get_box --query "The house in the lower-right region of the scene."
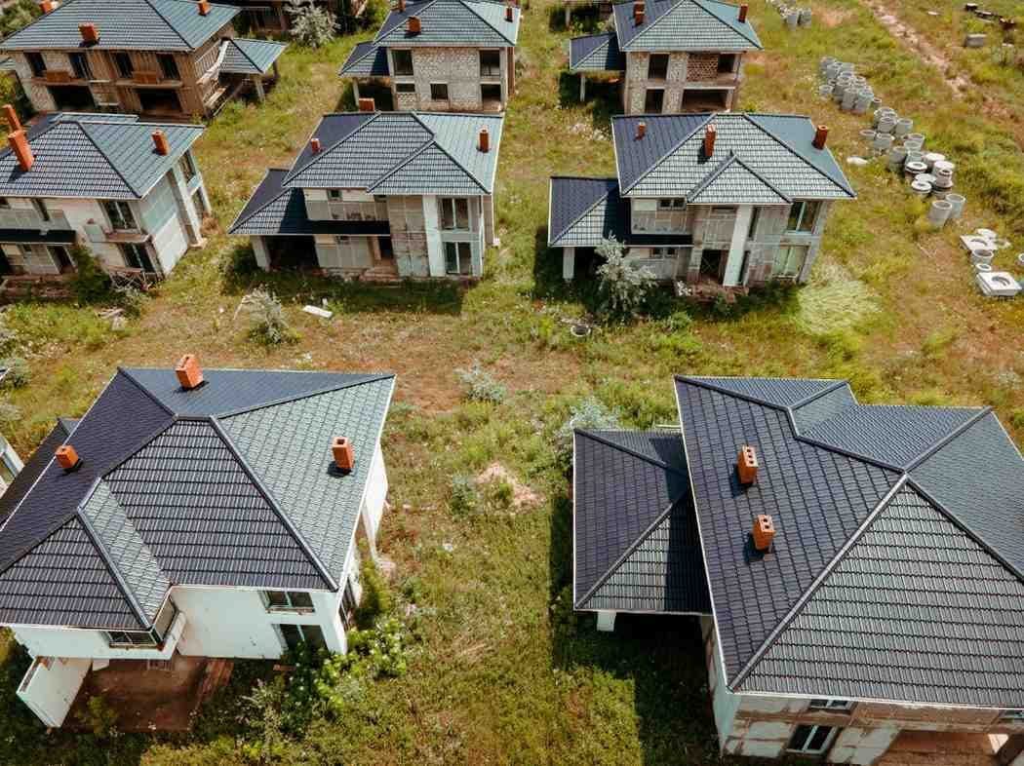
[571,376,1024,766]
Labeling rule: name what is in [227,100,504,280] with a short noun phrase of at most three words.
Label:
house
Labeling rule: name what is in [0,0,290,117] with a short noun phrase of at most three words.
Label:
house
